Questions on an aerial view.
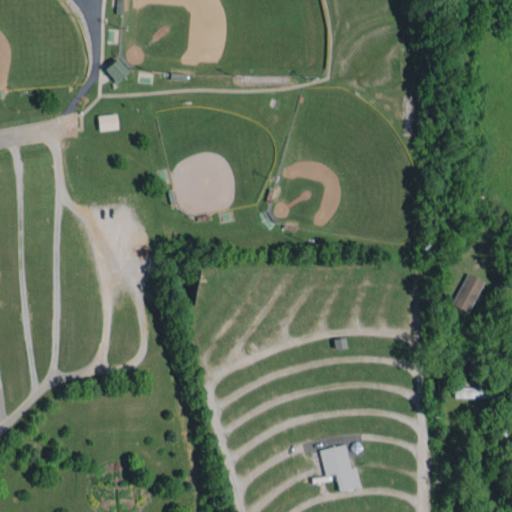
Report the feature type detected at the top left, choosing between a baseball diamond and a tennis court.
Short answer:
baseball diamond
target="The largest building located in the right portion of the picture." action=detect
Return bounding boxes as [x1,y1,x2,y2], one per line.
[320,445,362,492]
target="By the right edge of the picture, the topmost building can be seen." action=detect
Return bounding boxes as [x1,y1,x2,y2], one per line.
[454,274,488,312]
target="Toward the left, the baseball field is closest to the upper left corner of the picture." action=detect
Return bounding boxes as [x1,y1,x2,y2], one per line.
[0,0,87,97]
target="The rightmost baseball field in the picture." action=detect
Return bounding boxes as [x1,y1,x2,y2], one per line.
[268,88,414,244]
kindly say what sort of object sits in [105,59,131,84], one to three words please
building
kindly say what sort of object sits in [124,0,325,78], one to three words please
baseball field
